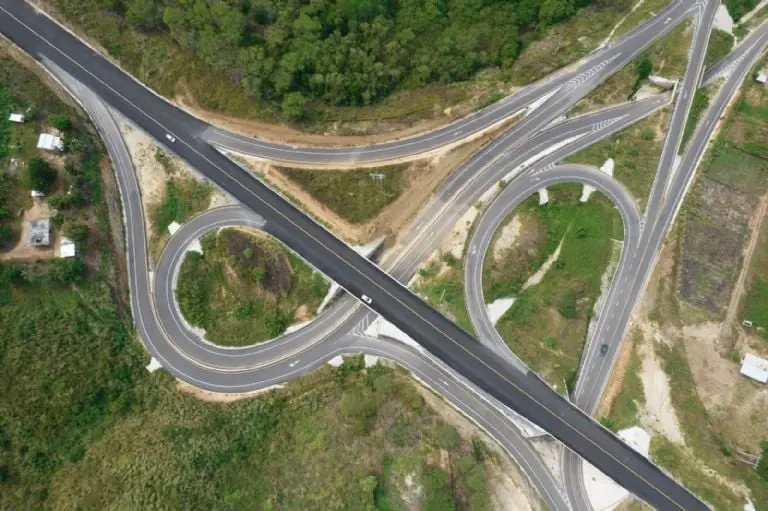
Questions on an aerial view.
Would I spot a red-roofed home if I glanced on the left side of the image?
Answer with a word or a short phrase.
No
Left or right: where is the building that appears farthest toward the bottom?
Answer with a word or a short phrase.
right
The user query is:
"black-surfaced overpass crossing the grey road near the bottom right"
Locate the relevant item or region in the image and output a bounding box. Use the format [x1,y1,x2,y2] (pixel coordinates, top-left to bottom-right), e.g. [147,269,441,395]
[533,393,623,470]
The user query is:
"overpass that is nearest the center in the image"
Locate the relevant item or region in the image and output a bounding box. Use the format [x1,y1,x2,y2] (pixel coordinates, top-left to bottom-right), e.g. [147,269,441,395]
[328,246,428,334]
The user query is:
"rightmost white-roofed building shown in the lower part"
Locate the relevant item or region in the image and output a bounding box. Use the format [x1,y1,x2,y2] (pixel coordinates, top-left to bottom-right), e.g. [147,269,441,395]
[735,351,768,385]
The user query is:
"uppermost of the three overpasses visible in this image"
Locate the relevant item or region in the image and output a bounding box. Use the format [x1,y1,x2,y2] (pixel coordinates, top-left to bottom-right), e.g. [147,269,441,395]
[672,64,706,101]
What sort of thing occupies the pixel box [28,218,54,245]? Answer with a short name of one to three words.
house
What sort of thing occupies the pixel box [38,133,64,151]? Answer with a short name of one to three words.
house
